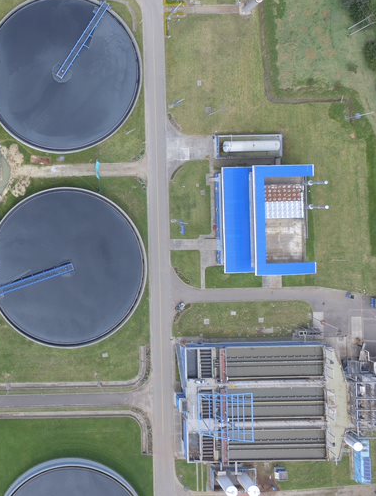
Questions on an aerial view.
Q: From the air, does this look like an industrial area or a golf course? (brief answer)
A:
industrial area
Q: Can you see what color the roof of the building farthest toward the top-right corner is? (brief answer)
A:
blue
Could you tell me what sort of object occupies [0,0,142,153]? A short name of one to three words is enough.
storage tank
